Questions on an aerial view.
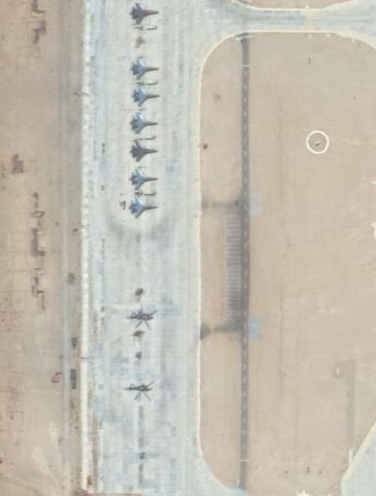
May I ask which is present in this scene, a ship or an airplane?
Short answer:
airplane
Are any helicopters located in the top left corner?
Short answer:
No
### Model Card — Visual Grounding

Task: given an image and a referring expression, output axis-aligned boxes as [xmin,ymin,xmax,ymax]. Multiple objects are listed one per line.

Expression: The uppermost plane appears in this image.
[131,4,159,22]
